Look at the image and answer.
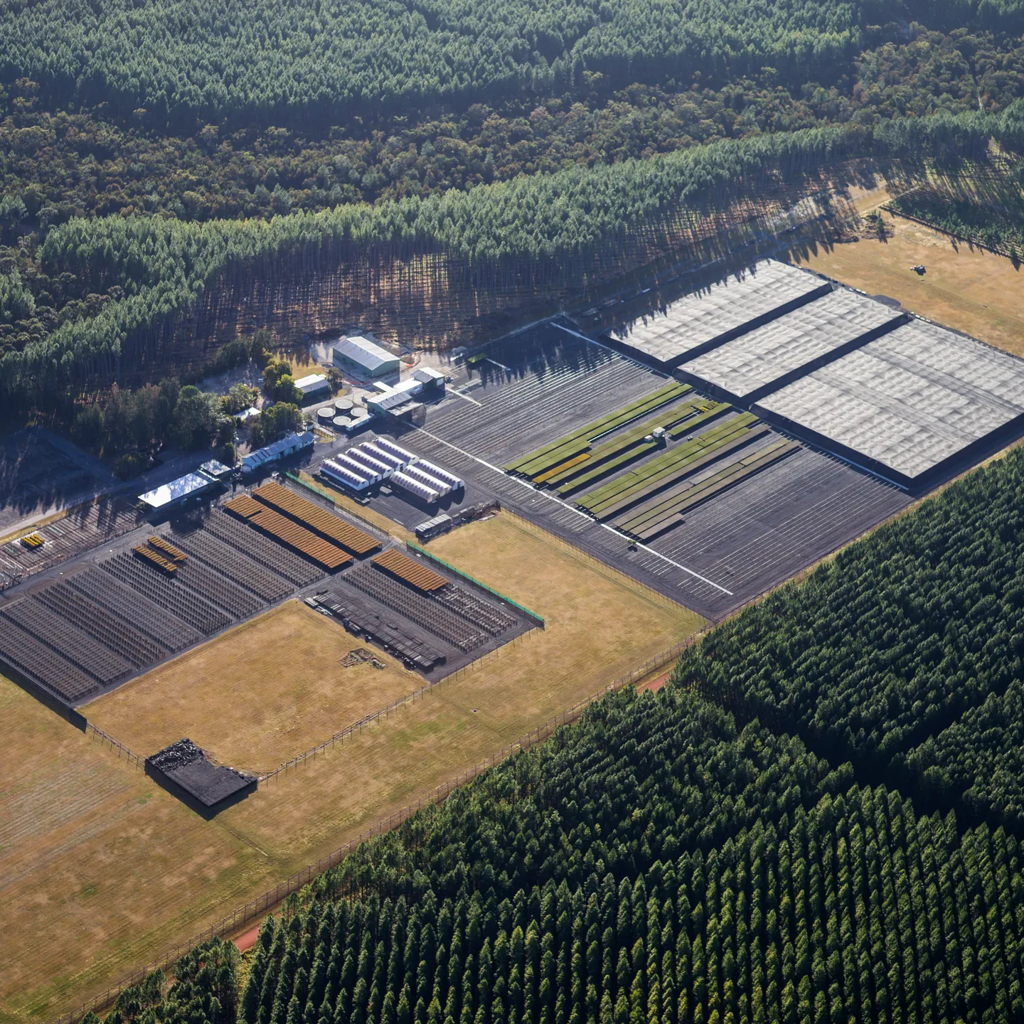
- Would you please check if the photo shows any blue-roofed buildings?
Yes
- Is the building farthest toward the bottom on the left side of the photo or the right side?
left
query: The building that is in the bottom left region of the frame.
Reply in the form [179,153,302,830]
[145,737,258,811]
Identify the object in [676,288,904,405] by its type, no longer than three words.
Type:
house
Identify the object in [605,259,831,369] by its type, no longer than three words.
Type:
house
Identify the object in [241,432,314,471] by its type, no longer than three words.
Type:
building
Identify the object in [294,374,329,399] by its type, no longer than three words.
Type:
shed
